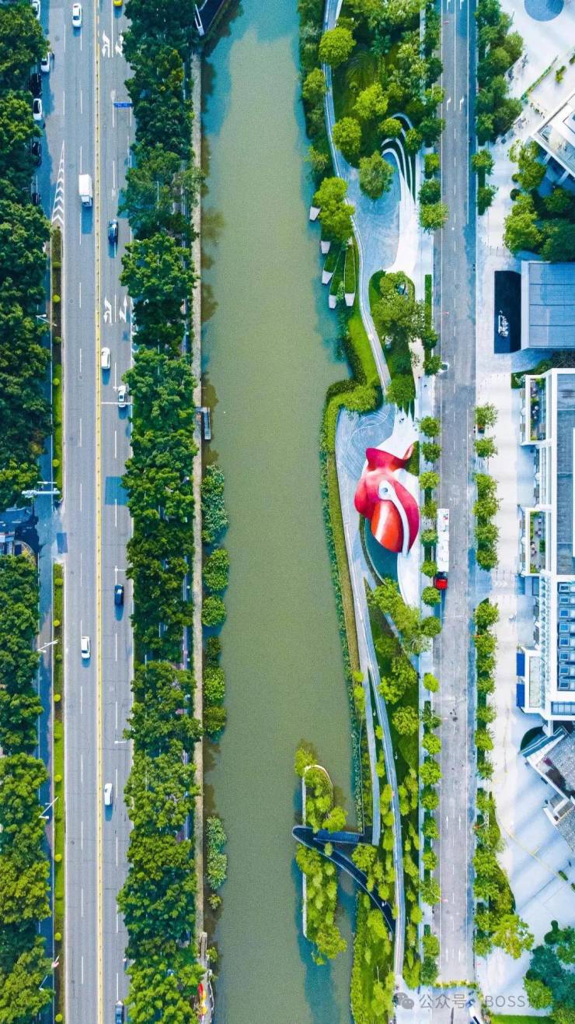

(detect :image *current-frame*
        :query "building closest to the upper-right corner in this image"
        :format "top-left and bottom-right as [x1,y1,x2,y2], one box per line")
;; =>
[530,93,575,195]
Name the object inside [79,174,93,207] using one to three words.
vehicle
